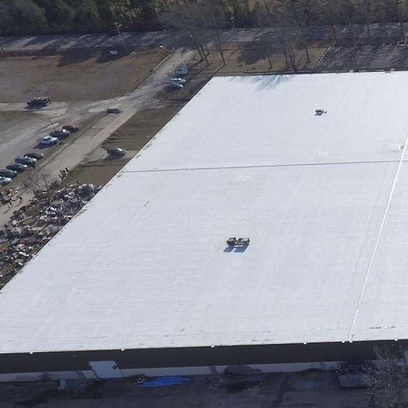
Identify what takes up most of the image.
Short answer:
buildings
